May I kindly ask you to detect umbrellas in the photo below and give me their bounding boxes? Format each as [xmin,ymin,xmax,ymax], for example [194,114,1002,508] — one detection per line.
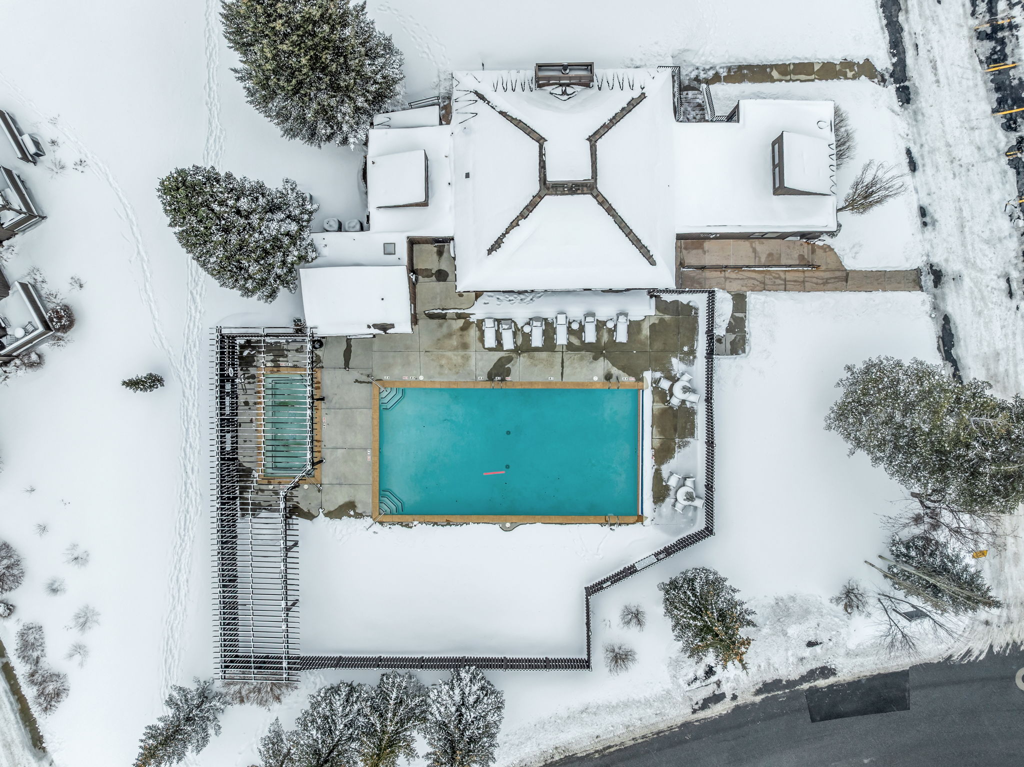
[677,385,691,397]
[681,492,695,504]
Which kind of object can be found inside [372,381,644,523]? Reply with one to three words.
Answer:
swimming pool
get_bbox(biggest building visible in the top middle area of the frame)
[300,61,836,341]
